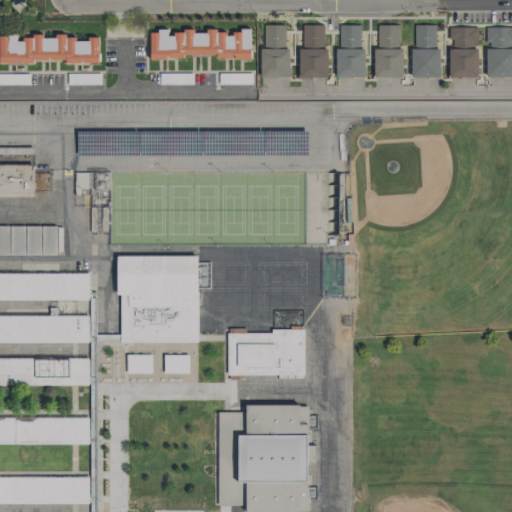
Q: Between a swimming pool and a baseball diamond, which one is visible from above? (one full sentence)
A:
The image shows a baseball diamond.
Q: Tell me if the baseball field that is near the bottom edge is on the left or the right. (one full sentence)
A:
The baseball field that is near the bottom edge is on the right side of the image.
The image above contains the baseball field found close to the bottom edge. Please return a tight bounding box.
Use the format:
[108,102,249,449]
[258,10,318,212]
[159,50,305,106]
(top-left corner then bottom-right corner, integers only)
[353,332,512,512]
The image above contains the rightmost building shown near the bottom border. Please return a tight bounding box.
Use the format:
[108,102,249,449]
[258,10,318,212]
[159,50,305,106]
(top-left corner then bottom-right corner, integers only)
[219,405,316,512]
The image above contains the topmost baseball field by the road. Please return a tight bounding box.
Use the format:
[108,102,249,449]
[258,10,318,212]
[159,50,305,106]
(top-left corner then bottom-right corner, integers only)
[350,118,512,332]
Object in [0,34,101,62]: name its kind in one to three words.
building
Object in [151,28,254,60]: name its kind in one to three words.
building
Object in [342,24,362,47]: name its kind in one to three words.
house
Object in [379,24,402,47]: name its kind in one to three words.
house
